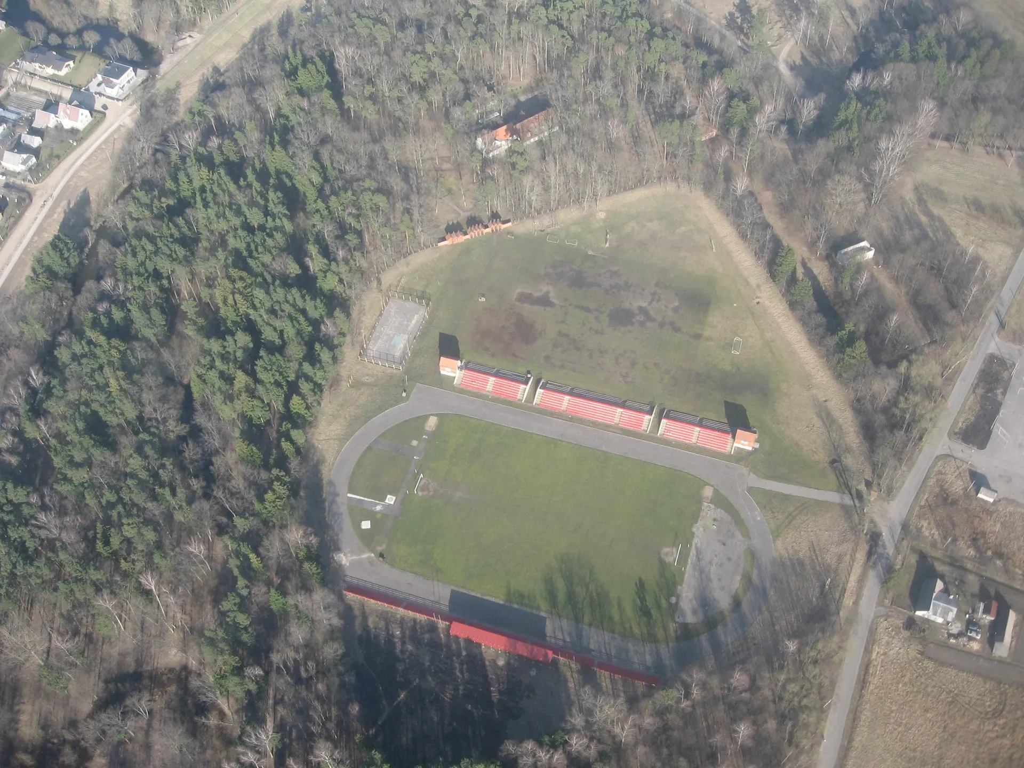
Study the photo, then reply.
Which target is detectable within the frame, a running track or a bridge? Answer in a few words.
running track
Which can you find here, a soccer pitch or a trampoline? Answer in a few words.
soccer pitch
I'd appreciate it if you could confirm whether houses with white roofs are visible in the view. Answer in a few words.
Yes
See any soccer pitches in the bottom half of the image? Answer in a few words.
Yes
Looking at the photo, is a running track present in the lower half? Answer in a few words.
Yes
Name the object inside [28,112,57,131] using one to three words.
house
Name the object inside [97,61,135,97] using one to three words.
house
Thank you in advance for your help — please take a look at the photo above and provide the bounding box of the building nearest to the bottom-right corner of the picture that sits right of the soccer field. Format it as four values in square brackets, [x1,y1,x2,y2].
[994,606,1022,665]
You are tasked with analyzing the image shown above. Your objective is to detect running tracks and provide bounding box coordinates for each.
[327,385,773,676]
